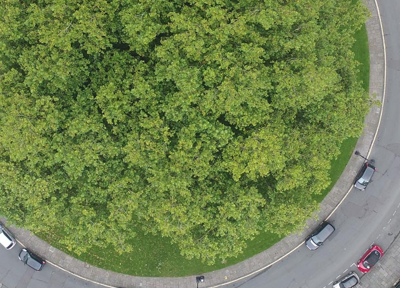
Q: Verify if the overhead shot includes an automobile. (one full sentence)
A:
Yes, this view includes an automobile.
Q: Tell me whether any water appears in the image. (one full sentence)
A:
No, the scene doesn't show any water.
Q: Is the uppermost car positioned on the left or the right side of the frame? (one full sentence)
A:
The uppermost car sits on the right side.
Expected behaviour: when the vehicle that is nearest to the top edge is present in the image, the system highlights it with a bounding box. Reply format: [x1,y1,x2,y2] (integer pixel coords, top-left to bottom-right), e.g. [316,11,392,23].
[352,161,378,191]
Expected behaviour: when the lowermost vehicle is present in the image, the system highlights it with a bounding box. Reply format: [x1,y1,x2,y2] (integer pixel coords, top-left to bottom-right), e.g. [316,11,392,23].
[332,271,360,288]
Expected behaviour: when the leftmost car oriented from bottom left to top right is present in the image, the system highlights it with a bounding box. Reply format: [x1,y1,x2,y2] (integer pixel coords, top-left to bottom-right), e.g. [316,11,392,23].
[304,220,337,250]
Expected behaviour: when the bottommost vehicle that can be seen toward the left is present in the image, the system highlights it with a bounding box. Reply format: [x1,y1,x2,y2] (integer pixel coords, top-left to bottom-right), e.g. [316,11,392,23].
[18,247,46,272]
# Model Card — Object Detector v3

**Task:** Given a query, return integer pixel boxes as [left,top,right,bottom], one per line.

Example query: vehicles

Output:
[332,271,360,288]
[356,244,384,273]
[0,221,17,250]
[18,247,46,272]
[304,220,337,250]
[352,161,378,191]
